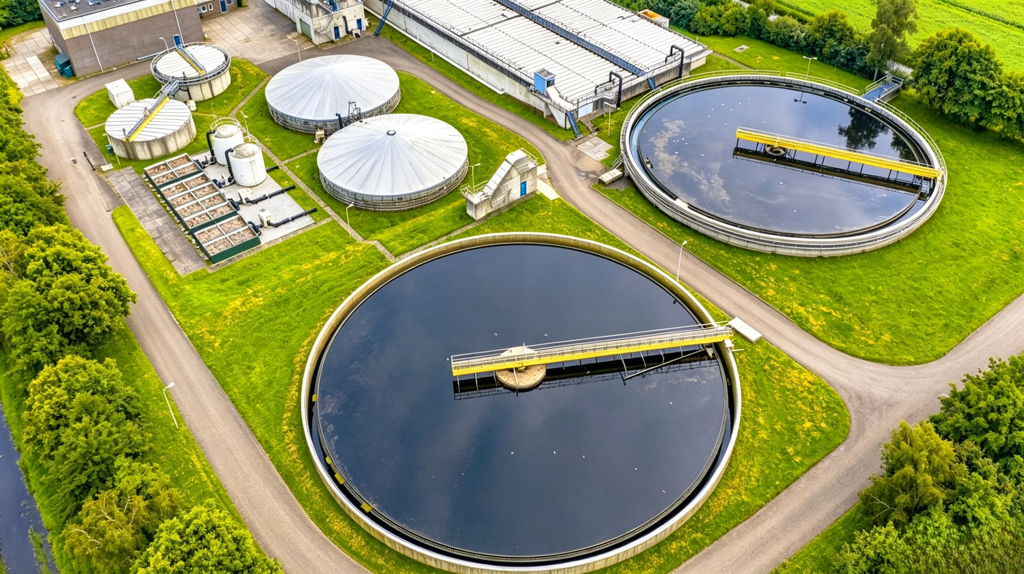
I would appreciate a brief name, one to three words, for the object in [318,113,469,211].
storage tank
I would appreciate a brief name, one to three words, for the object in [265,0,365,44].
building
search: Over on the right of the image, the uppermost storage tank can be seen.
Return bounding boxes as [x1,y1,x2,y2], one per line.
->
[622,70,948,257]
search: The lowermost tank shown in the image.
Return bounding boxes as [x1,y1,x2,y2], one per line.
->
[300,232,742,574]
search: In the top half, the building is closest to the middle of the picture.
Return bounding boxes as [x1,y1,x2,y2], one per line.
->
[462,146,538,220]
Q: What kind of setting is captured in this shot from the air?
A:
industrial area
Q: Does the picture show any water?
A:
Yes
